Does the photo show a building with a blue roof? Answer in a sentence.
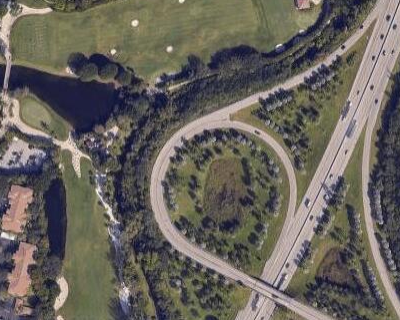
No, there appears to be no building with a blue roof in this shot.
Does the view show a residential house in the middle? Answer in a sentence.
No, in the middle there is no residential house.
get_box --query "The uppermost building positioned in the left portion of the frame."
[3,185,33,232]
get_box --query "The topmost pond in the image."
[0,62,117,134]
